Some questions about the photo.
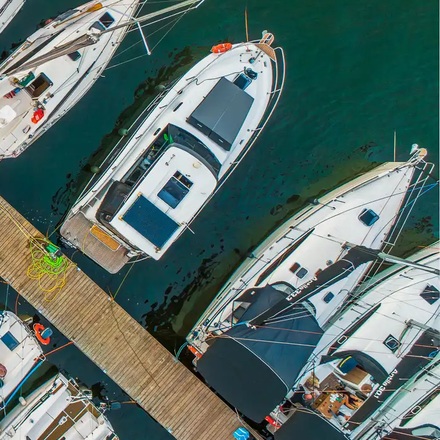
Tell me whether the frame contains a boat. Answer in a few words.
Yes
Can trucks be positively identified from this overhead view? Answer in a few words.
No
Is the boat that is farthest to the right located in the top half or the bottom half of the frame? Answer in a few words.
bottom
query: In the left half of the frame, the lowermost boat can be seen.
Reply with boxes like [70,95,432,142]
[0,370,121,440]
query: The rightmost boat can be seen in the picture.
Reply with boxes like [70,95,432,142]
[356,358,440,440]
